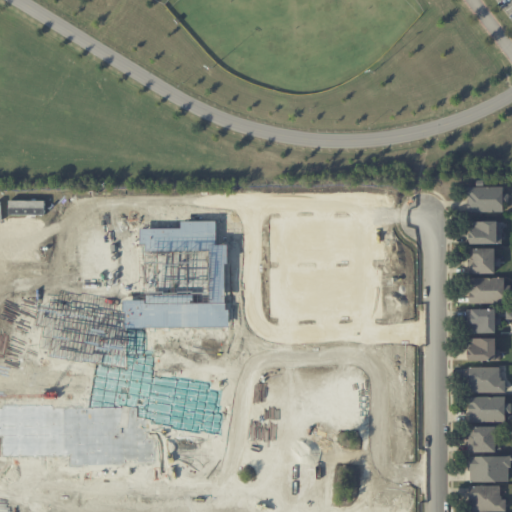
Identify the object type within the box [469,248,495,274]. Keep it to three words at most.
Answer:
house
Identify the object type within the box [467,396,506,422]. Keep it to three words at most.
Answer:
house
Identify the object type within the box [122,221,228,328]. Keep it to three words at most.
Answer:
building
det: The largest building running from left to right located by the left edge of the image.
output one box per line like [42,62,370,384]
[8,201,44,216]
